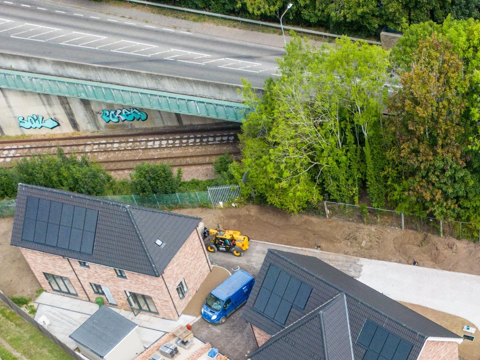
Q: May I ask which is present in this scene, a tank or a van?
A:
van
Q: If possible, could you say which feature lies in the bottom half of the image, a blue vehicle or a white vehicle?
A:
blue vehicle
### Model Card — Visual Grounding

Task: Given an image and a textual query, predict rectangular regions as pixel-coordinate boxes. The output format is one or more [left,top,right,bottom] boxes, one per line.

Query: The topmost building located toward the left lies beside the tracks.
[10,182,214,318]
